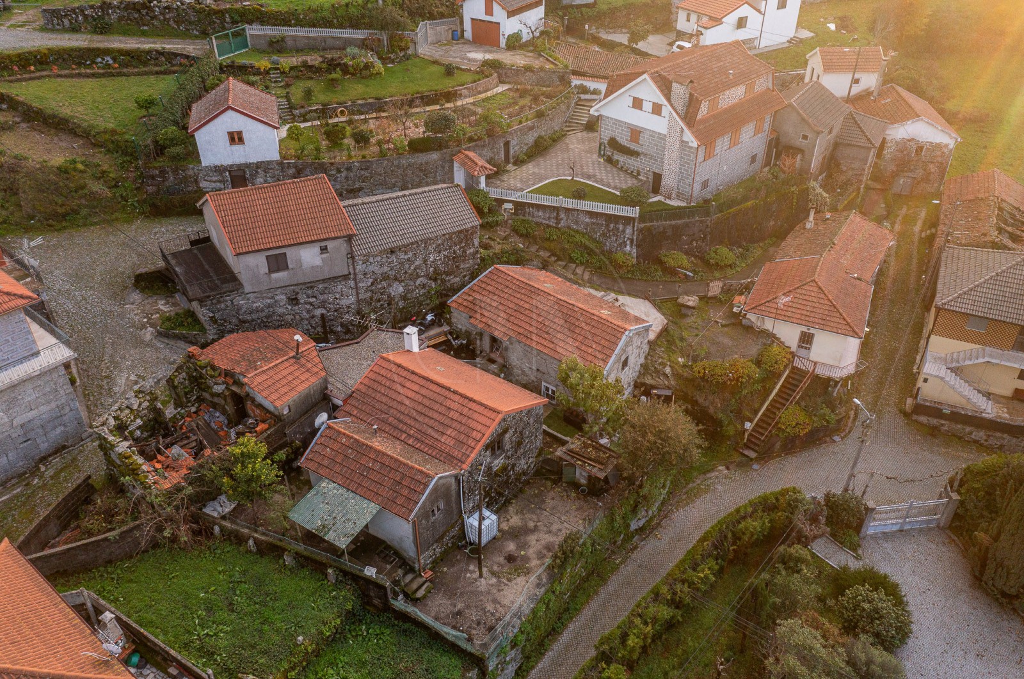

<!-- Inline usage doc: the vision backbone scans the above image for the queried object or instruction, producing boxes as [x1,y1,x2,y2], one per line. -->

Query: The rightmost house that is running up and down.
[916,190,1024,414]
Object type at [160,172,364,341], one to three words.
house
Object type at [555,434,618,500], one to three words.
shed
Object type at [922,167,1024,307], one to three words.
house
